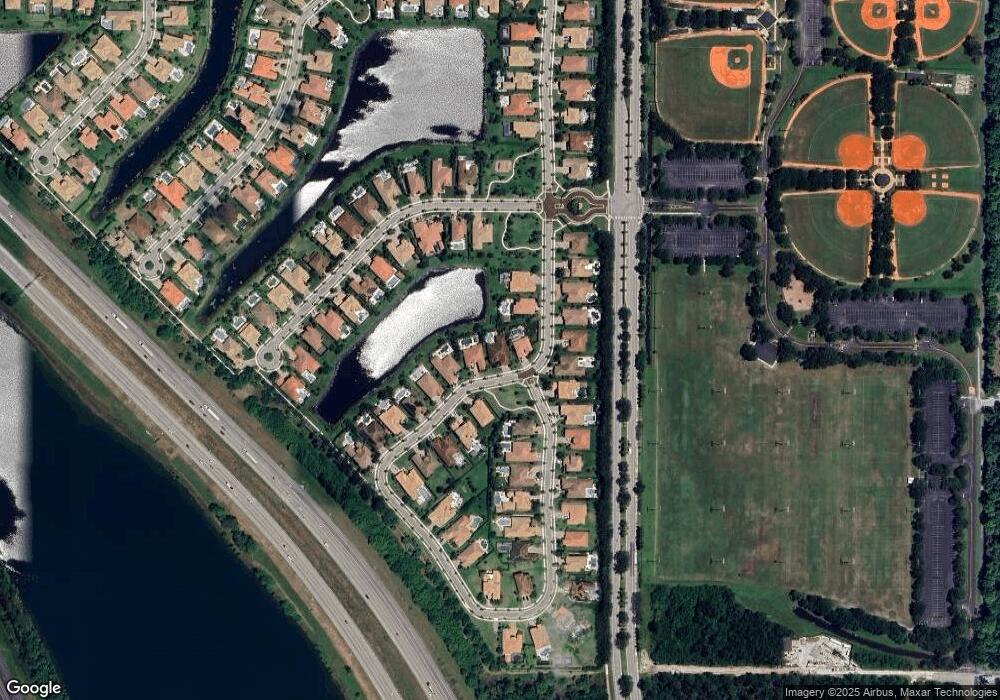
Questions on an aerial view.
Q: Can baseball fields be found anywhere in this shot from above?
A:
Yes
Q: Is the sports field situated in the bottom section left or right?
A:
right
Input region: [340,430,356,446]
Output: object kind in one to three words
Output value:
swimming pool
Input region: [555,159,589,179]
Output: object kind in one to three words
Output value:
house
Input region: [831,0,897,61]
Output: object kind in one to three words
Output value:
baseball field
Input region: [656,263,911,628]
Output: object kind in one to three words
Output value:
sports field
